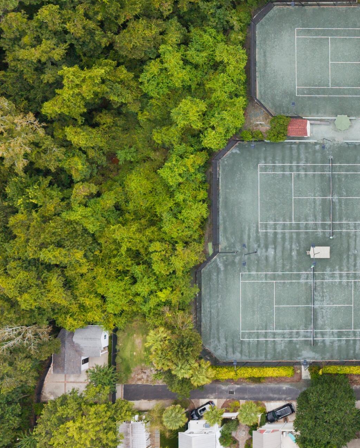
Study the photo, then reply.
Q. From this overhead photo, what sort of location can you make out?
sports ground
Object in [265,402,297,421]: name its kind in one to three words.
car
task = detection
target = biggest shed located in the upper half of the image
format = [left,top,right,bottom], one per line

[288,119,313,136]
